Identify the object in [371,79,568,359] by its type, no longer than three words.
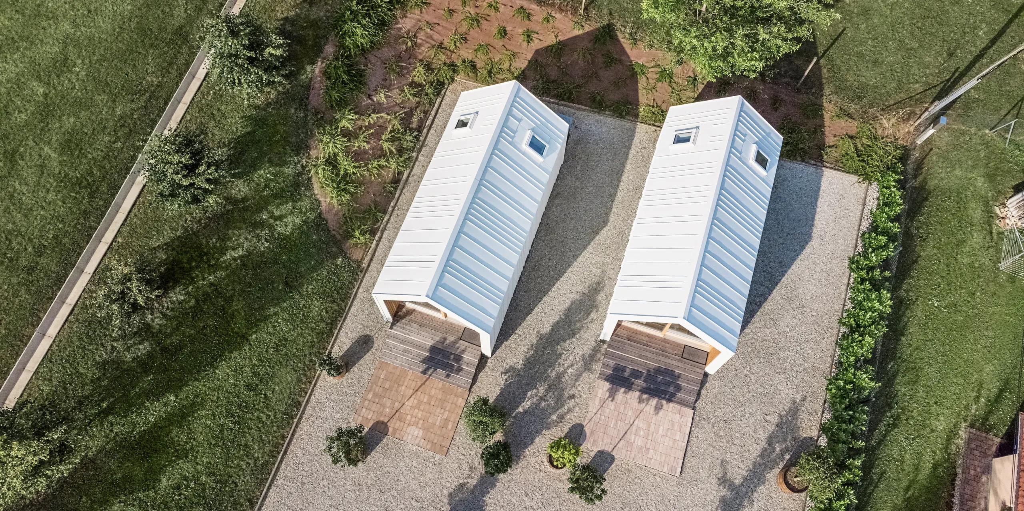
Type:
building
